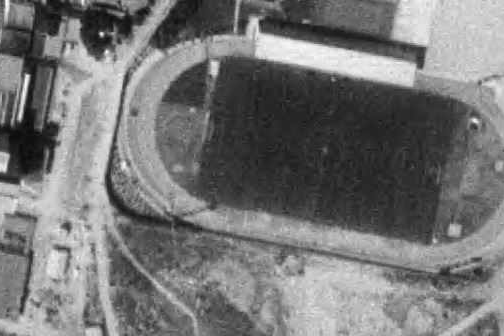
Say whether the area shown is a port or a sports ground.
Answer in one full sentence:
What you see here is a sports ground.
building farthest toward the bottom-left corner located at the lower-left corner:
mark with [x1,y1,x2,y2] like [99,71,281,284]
[0,247,30,314]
